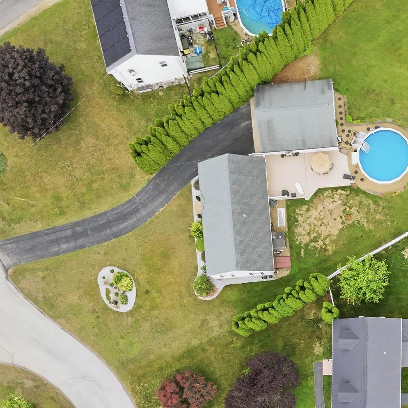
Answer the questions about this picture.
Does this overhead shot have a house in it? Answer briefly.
Yes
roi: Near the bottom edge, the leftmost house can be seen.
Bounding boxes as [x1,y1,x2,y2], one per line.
[331,316,402,408]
